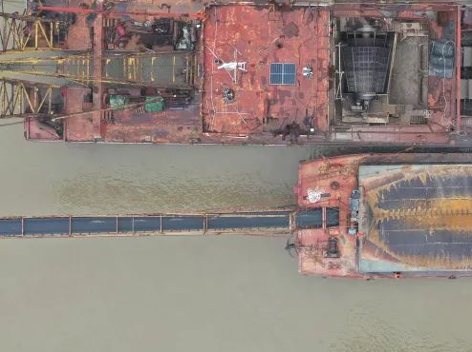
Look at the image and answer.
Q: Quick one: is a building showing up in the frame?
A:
No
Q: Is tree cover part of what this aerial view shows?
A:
No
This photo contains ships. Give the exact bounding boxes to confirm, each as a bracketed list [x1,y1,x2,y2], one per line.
[0,0,472,149]
[0,153,472,278]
